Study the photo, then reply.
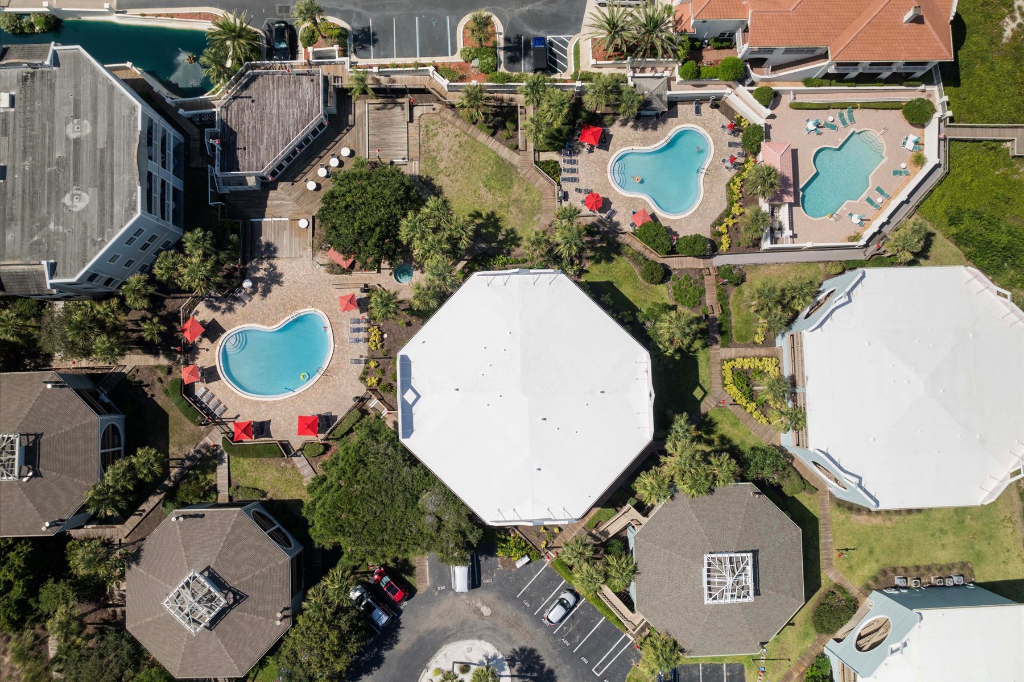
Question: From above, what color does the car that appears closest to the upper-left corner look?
black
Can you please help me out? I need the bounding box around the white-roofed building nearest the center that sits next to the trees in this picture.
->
[394,268,658,530]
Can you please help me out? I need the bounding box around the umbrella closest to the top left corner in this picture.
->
[182,318,205,341]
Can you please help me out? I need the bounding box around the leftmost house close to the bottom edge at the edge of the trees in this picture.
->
[125,498,314,678]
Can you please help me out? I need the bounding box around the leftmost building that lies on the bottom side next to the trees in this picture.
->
[0,364,132,536]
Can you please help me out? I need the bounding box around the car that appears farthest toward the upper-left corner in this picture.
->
[271,20,291,62]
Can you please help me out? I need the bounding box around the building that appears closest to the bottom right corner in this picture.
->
[813,582,1024,682]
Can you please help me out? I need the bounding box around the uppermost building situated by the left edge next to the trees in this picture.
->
[0,41,182,292]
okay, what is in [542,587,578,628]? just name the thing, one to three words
car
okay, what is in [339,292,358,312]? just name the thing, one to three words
umbrella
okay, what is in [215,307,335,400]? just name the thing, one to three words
swimming pool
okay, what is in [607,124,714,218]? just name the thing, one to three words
swimming pool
